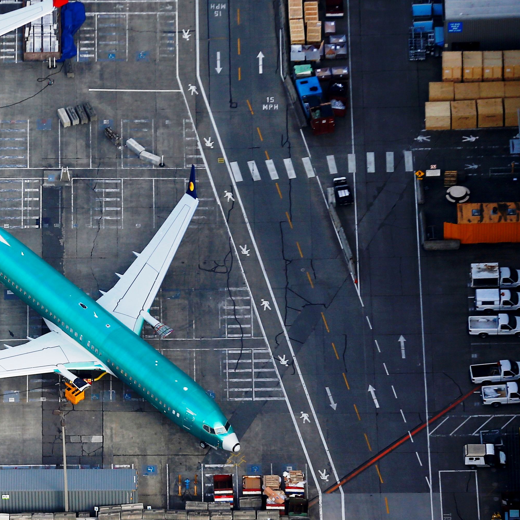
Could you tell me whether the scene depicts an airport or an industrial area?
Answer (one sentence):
The picture captures an airport.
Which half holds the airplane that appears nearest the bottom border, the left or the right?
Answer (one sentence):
The airplane that appears nearest the bottom border sits on the left side.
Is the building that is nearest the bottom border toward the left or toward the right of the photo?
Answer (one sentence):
The building that is nearest the bottom border appears in the right half of the scene.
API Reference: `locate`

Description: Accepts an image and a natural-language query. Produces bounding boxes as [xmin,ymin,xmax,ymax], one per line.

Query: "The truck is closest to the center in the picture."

[330,171,359,209]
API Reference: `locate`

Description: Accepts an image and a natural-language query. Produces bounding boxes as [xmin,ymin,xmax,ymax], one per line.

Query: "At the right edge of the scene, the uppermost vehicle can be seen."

[467,259,520,291]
